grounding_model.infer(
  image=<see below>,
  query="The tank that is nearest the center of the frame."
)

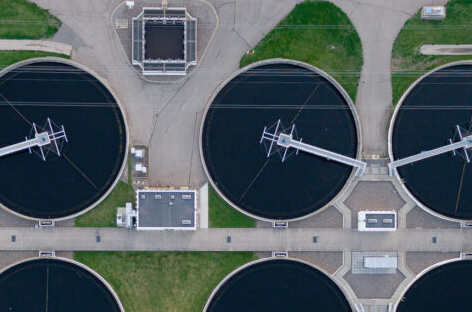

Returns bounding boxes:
[200,59,363,221]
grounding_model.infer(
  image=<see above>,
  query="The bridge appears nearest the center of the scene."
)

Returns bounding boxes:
[274,131,363,178]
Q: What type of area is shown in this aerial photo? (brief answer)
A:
industrial area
